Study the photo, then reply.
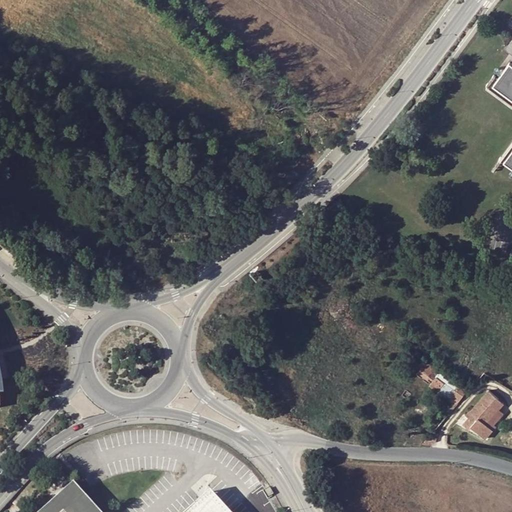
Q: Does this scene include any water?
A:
No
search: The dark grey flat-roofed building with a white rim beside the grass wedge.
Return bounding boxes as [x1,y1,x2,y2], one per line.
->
[36,479,106,512]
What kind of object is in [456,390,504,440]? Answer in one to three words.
house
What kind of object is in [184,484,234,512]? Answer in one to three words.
building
